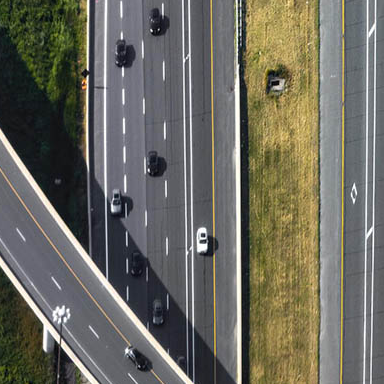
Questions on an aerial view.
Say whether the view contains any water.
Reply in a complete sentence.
No, the scene doesn't show any water.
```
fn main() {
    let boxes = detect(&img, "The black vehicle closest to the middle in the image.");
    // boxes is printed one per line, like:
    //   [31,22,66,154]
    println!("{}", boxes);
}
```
[146,152,159,176]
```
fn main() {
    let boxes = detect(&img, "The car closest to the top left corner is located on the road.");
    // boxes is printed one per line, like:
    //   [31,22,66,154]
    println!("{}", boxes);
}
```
[114,41,127,67]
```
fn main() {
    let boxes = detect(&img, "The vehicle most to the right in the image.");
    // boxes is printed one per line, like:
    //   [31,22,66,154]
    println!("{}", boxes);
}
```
[195,228,209,254]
